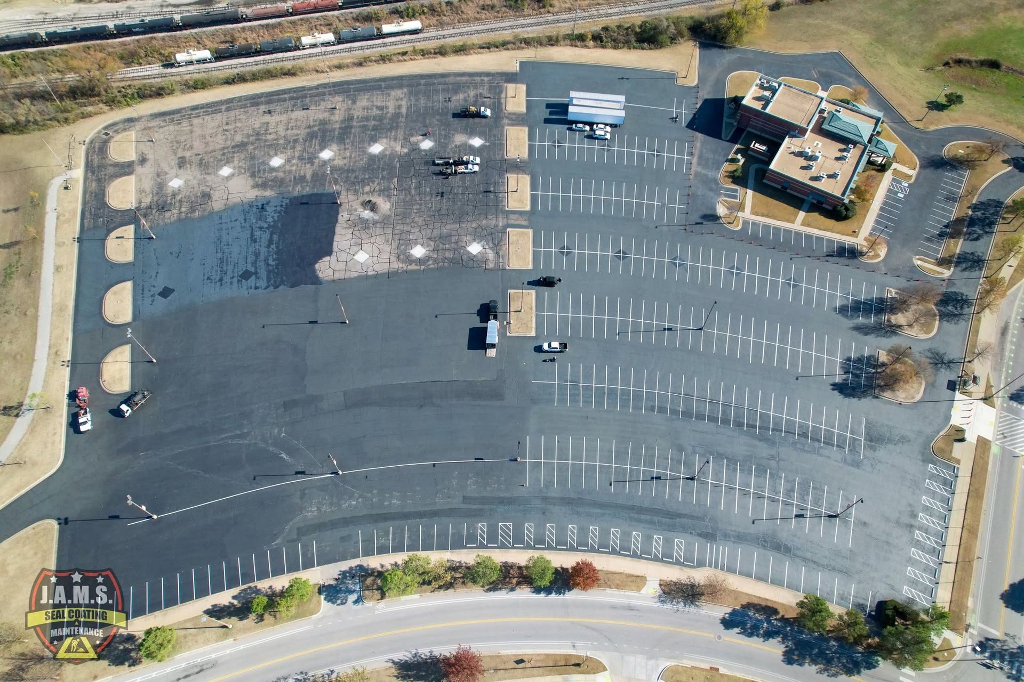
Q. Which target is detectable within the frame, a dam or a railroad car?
railroad car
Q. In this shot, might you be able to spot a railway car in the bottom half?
No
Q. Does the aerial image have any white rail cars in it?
Yes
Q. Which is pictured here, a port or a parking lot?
parking lot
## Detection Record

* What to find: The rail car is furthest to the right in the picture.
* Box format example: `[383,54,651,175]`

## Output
[378,16,424,37]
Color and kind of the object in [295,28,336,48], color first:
white rail car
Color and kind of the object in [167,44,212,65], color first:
white rail car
